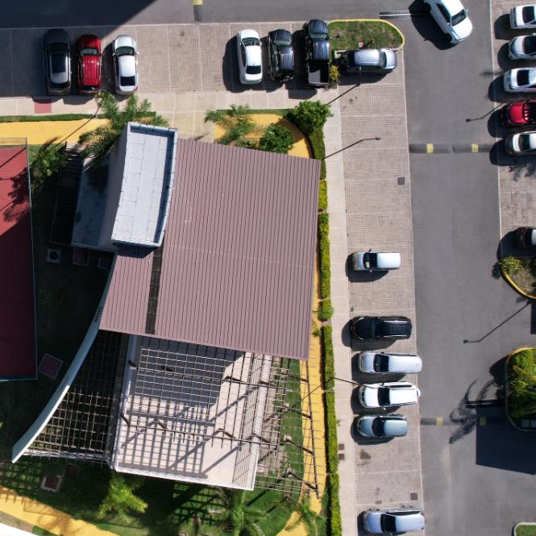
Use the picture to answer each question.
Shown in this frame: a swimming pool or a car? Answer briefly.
car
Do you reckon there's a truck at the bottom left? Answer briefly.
No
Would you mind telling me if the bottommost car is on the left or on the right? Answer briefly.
right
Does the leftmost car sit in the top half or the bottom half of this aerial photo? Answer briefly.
top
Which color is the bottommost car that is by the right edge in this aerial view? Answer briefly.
black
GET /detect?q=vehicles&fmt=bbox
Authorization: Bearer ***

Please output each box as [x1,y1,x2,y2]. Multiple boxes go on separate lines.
[42,28,74,95]
[76,33,105,93]
[507,31,536,61]
[358,382,423,413]
[236,28,266,85]
[111,34,140,95]
[267,28,299,82]
[423,0,473,44]
[362,506,424,536]
[499,98,536,129]
[355,414,408,443]
[302,17,337,89]
[358,350,421,379]
[502,66,536,94]
[514,226,536,251]
[509,4,536,31]
[352,248,402,275]
[350,313,412,344]
[506,132,536,158]
[341,43,398,76]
